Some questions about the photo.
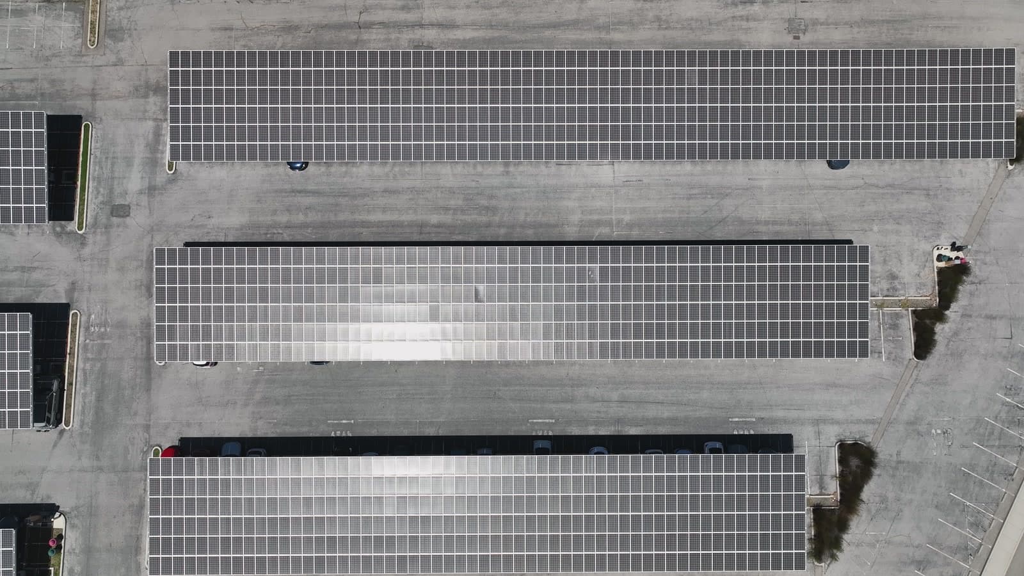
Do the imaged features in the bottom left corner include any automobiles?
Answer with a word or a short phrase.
Yes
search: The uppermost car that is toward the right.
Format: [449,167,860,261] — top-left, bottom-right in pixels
[826,159,850,171]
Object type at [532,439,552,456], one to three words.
car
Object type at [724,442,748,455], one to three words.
vehicle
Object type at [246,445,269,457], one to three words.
vehicle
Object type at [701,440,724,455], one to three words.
car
